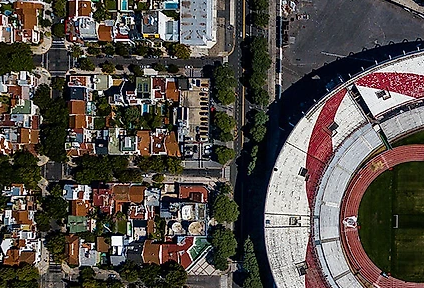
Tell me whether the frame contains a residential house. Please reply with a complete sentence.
Yes, there is a residential house in the image.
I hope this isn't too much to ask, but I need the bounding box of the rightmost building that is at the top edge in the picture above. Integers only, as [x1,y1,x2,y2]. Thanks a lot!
[180,0,217,48]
